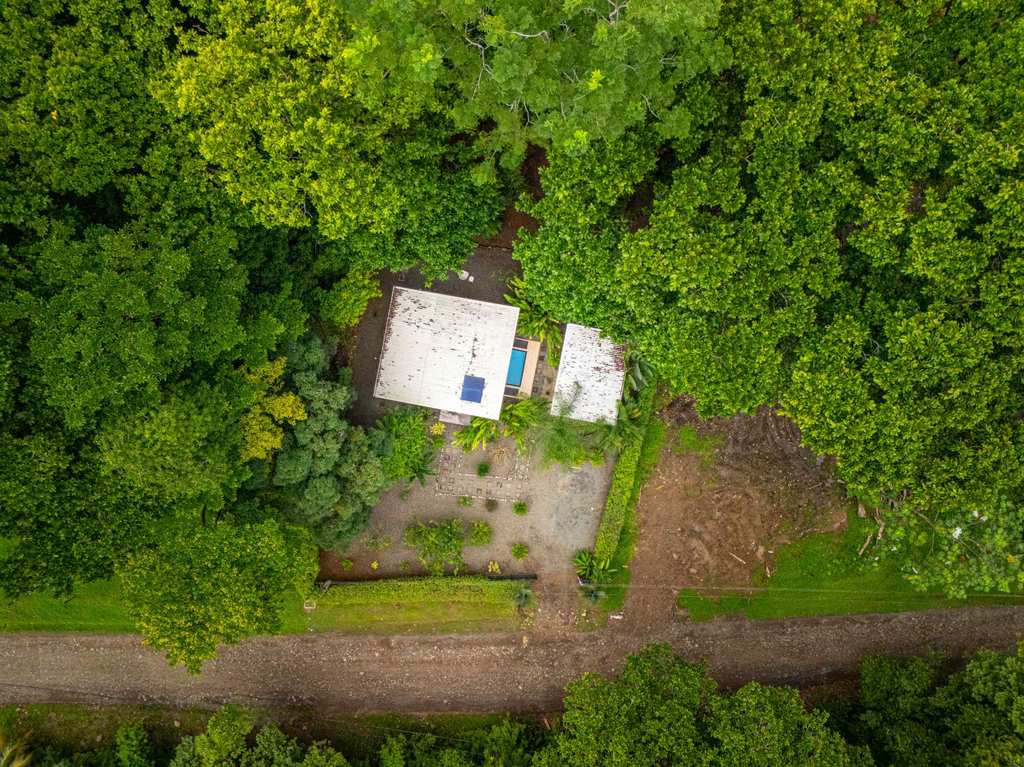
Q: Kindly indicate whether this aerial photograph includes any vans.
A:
No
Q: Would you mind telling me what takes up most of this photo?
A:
trees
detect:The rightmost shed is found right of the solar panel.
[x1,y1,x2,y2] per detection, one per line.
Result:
[551,324,634,426]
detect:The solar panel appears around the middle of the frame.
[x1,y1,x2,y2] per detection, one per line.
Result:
[460,374,485,403]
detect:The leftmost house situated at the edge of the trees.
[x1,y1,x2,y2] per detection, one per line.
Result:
[372,286,520,421]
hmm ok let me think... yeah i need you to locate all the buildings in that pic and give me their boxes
[551,324,634,426]
[372,286,520,421]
